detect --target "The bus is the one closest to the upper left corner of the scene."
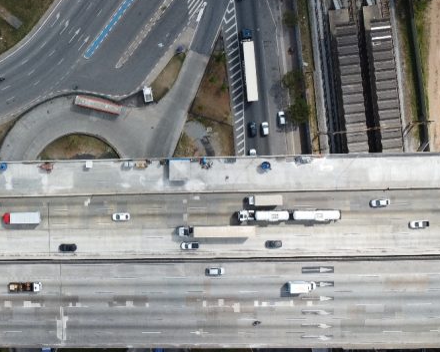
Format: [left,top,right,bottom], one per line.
[72,96,124,118]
